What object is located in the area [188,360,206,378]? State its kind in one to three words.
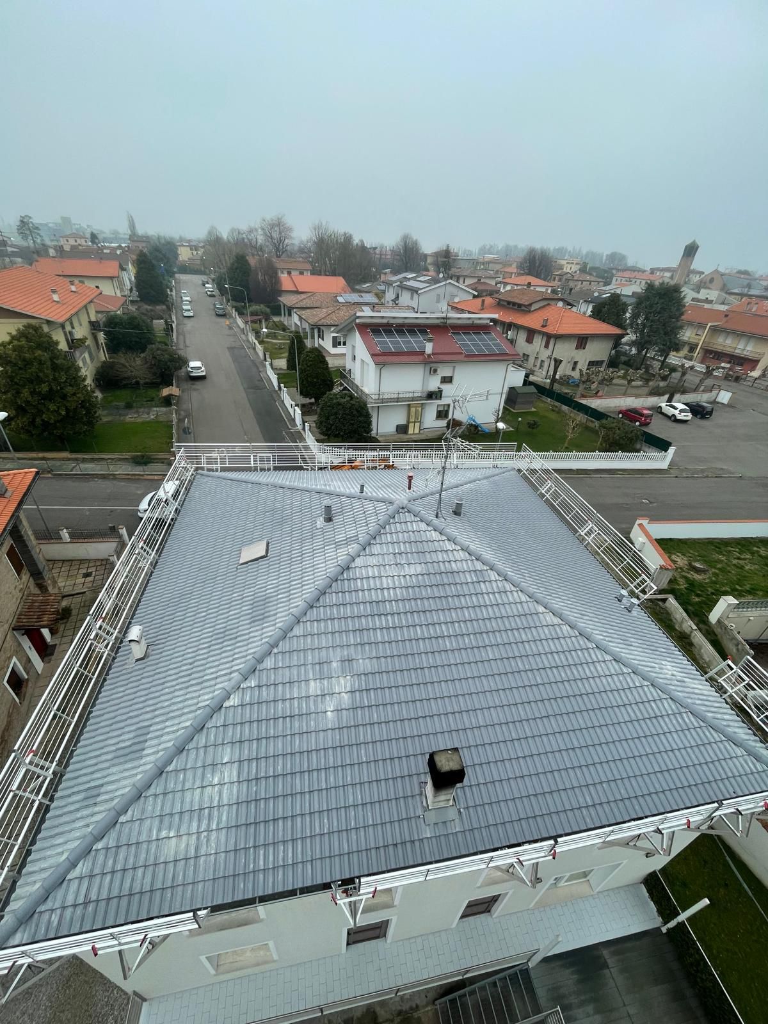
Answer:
car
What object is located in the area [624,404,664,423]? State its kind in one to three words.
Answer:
car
